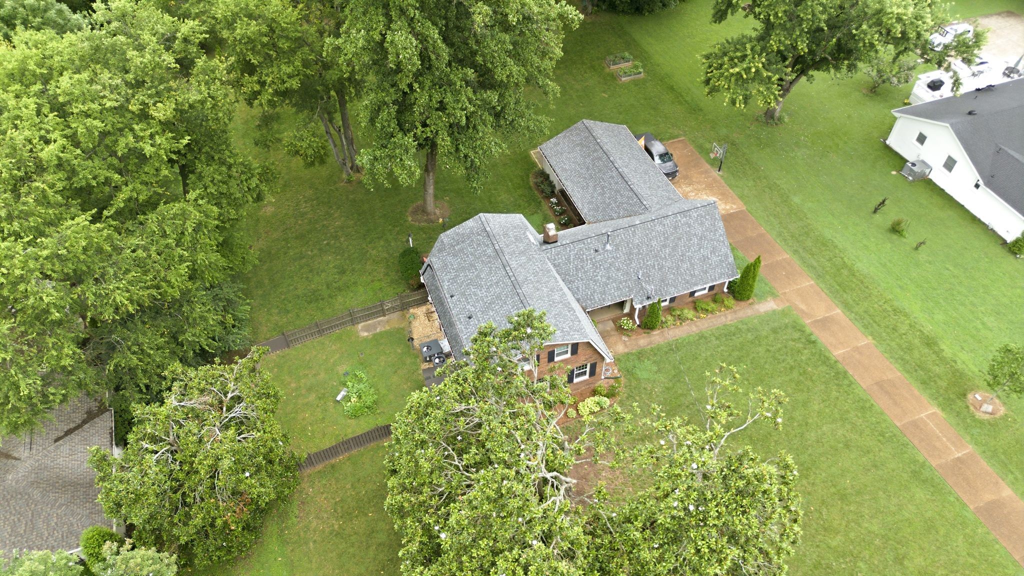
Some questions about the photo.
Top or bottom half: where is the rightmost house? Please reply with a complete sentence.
The rightmost house is in the top half of the image.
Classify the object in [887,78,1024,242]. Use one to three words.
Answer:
house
